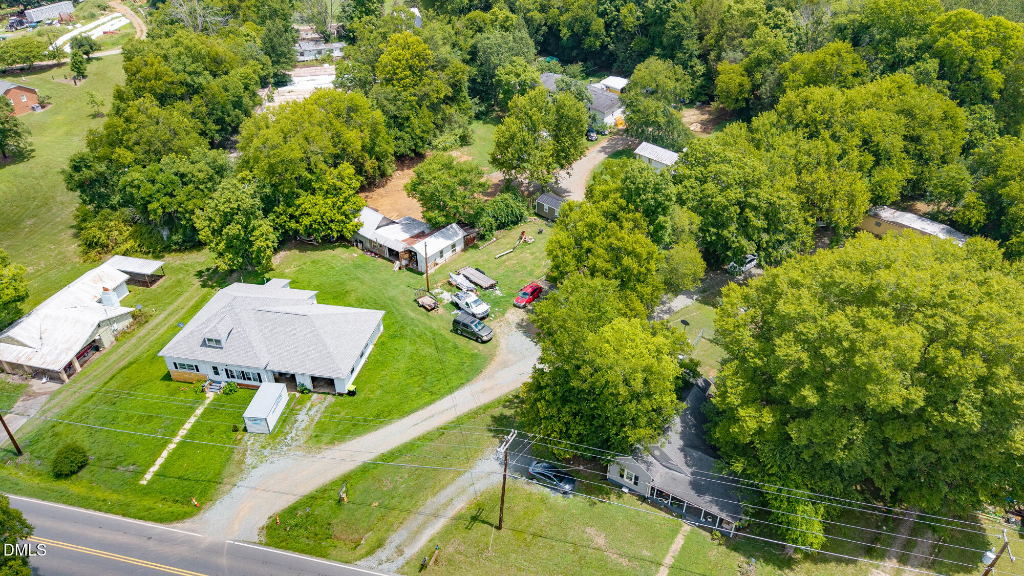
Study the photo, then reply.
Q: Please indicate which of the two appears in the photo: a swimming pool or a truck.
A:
truck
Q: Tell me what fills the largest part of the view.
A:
trees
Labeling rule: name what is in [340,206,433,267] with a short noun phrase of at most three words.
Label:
barn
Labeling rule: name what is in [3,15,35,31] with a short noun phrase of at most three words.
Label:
vehicle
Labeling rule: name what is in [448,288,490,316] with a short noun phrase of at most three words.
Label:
truck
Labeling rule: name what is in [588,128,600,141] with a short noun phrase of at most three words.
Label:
vehicle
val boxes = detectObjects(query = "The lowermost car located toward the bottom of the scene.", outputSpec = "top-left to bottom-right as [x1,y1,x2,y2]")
[523,458,580,493]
